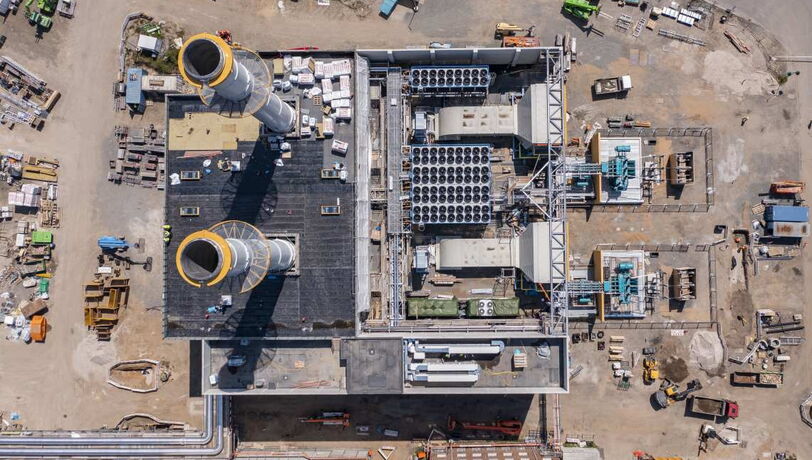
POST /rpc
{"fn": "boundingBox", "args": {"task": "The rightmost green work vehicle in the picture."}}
[566,0,615,22]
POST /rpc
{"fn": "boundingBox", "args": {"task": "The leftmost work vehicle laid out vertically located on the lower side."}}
[641,347,657,379]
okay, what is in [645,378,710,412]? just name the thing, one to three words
work vehicle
